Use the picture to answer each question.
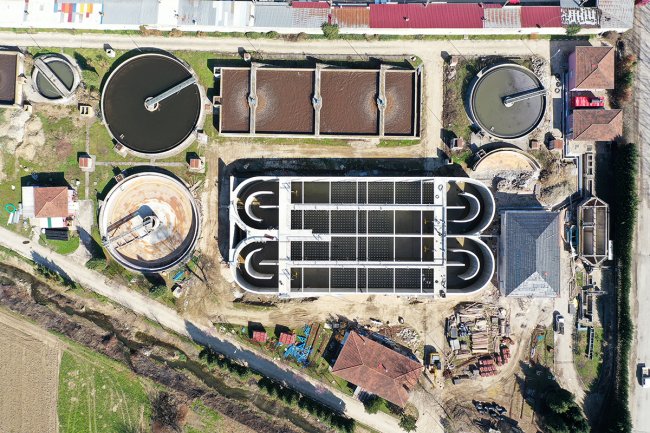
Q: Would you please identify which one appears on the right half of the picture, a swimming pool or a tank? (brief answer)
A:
tank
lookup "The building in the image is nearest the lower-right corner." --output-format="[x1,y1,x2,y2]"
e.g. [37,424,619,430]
[500,210,560,297]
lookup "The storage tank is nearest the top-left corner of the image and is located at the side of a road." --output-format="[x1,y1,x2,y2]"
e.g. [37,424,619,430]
[29,52,82,105]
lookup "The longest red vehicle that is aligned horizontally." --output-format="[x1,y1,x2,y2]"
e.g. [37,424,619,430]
[570,95,600,107]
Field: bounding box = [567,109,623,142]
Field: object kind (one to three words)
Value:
house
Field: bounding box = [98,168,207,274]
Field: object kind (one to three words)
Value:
storage tank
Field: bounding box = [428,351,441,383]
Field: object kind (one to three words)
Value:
vehicle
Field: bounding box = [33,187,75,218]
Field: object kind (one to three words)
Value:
house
